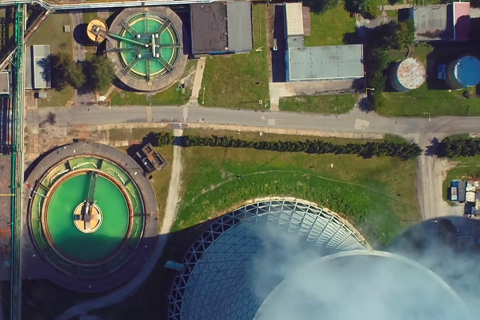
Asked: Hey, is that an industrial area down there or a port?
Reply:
industrial area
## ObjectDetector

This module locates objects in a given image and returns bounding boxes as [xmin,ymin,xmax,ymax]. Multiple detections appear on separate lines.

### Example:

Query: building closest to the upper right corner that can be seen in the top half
[449,1,470,41]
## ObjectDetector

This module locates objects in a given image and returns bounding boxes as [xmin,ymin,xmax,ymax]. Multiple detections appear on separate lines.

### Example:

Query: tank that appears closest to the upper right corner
[446,56,480,88]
